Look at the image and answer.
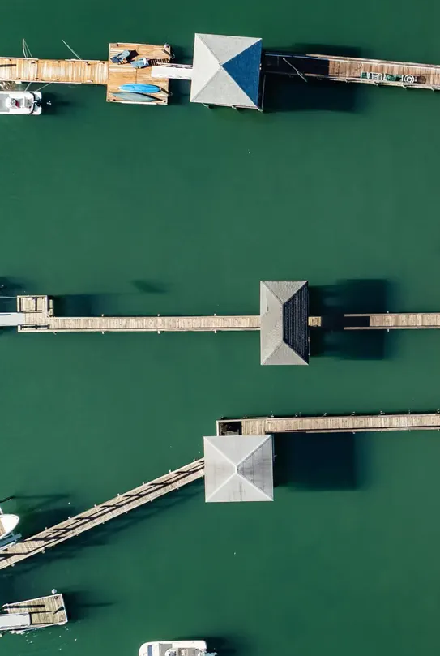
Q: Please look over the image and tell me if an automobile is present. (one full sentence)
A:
No, there appears to be no automobile in this shot.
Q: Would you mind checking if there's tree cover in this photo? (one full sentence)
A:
No, tree cover can't be seen anywhere here.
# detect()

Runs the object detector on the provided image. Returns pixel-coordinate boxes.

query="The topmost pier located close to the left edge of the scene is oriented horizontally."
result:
[0,56,109,86]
